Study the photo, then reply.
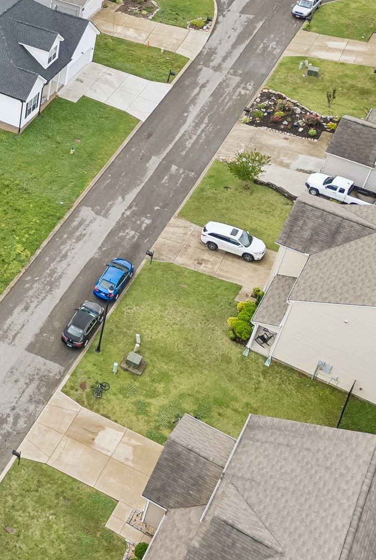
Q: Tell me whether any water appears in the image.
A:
No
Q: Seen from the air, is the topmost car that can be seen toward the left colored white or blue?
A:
blue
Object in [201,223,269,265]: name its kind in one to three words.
car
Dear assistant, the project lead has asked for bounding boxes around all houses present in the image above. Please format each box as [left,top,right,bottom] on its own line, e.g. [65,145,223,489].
[323,107,376,186]
[139,411,376,560]
[234,198,376,406]
[0,0,101,136]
